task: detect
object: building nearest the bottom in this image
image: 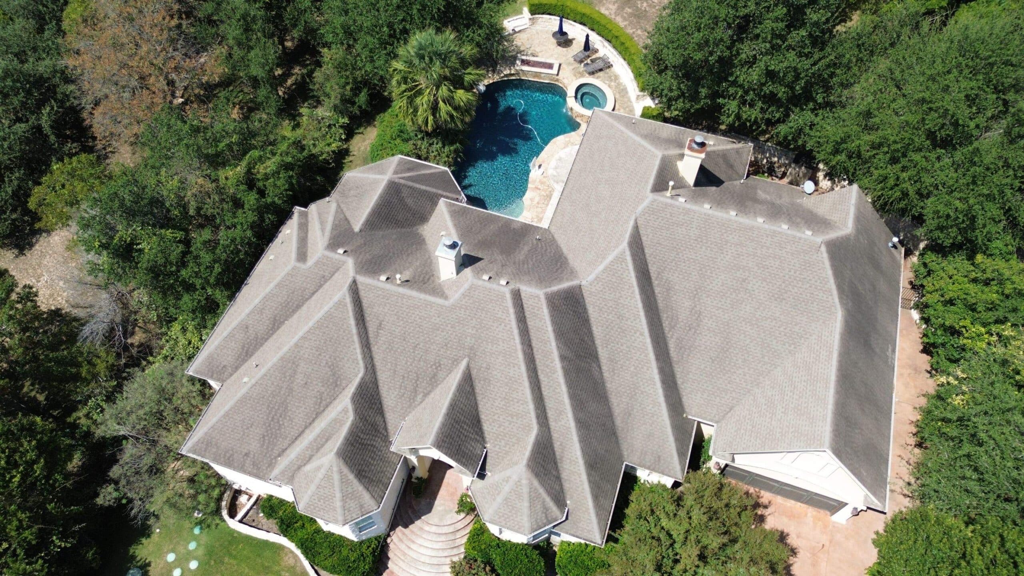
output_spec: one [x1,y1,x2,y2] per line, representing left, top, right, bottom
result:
[179,106,906,553]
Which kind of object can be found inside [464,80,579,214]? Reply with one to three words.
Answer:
swimming pool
